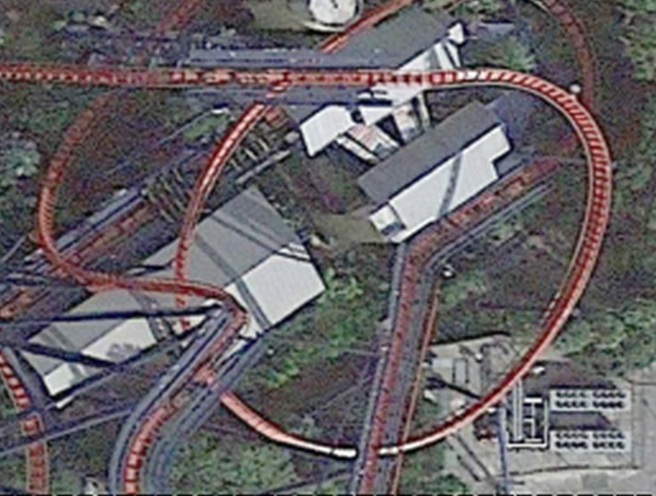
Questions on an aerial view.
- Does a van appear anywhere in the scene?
No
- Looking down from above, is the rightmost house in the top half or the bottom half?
bottom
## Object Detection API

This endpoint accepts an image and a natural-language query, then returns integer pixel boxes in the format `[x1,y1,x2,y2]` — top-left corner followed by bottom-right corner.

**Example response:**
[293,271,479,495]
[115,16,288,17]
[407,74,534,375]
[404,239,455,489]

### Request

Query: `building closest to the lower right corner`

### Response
[497,378,549,448]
